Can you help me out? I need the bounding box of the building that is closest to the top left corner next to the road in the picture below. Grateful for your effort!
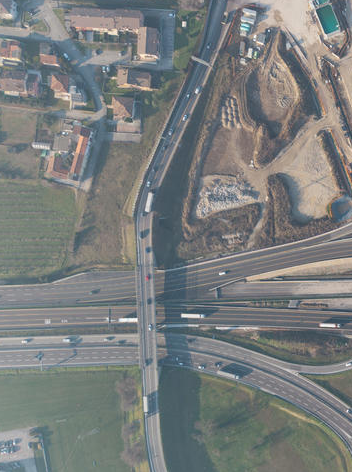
[0,0,25,25]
